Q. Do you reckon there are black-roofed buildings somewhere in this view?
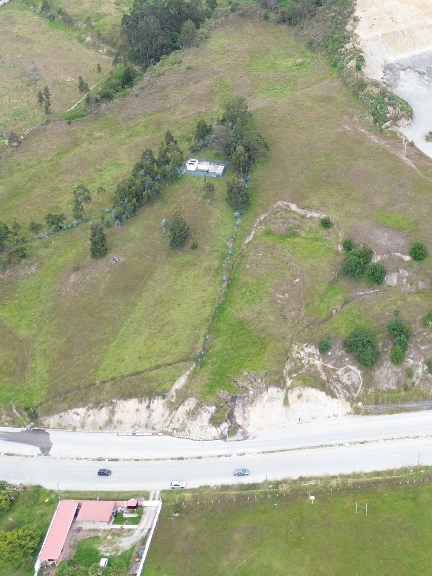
No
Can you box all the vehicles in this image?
[234,470,249,477]
[169,481,185,489]
[95,555,112,574]
[95,469,113,477]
